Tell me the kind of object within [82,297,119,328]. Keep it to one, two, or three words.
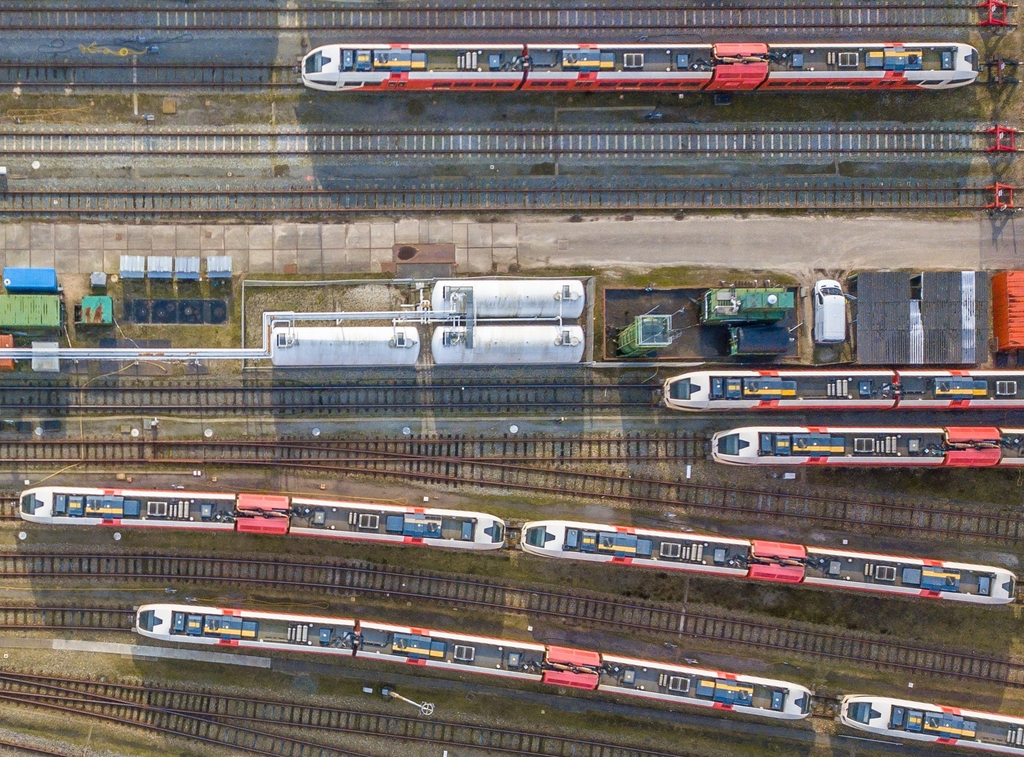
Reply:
shed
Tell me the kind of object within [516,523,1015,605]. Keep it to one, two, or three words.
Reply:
train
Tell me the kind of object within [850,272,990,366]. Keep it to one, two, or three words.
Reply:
shed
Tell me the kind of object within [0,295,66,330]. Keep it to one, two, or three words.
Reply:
shipping container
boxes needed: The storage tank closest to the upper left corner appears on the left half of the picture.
[273,328,419,366]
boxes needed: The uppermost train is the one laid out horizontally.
[297,42,984,90]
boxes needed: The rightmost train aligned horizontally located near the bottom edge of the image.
[833,692,1024,755]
